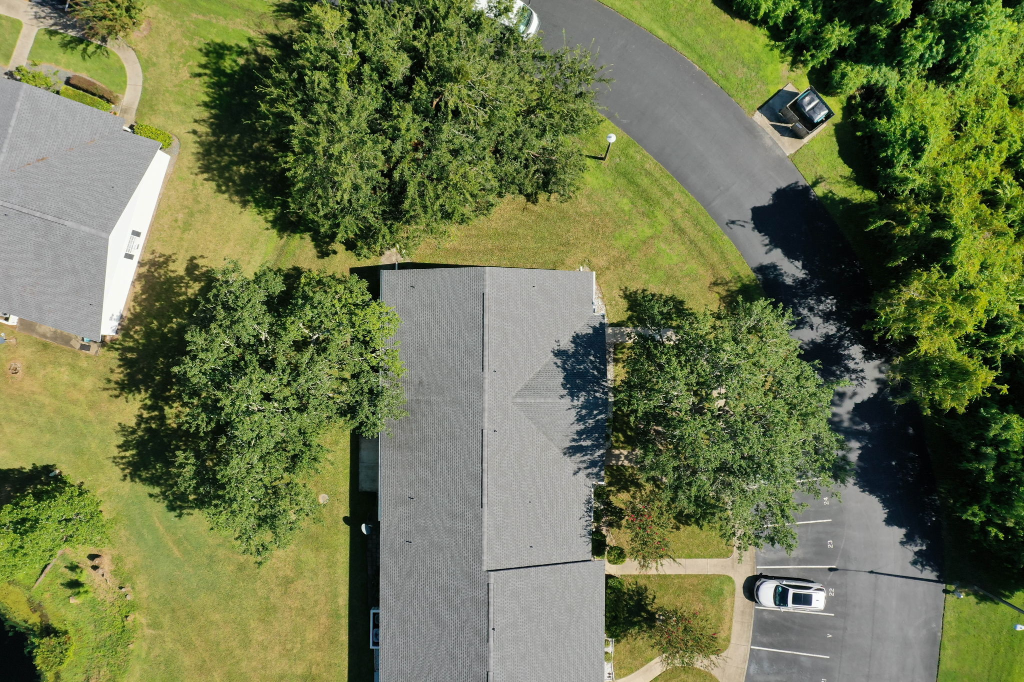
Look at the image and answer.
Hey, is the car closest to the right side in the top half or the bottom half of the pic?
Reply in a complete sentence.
The bottom half of the photo is where the car closest to the right side is.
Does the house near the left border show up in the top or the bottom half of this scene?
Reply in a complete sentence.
The top half of the photo is where the house near the left border is.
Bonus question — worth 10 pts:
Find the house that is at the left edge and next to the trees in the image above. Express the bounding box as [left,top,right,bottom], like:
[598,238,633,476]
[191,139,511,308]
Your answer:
[0,79,170,338]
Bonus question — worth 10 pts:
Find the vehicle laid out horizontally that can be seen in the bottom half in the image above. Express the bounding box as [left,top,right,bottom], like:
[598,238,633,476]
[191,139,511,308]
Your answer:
[753,574,827,611]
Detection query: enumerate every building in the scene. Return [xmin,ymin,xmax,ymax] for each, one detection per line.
[0,79,170,338]
[379,267,607,682]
